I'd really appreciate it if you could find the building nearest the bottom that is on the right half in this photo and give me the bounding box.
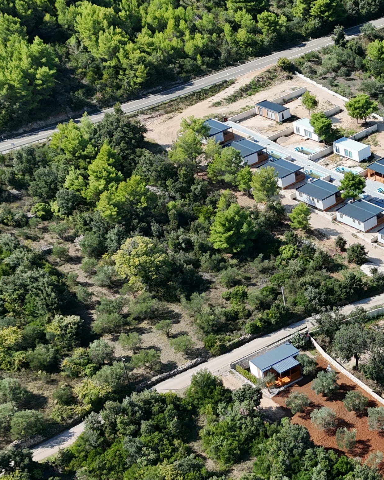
[249,341,302,386]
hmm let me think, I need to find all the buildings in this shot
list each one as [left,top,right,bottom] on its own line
[297,179,344,211]
[196,119,233,145]
[255,99,290,123]
[333,137,370,161]
[337,199,384,233]
[232,139,267,164]
[293,117,329,141]
[367,157,384,183]
[258,159,304,189]
[249,341,302,386]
